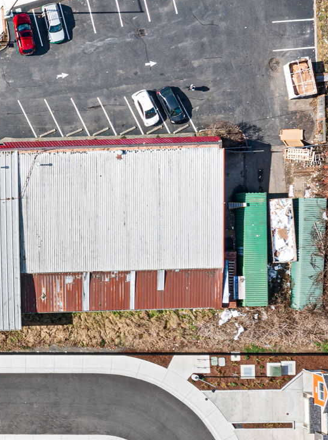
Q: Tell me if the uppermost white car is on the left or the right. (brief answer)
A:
left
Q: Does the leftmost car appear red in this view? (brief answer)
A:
Yes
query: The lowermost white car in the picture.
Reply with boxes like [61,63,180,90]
[132,88,160,128]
